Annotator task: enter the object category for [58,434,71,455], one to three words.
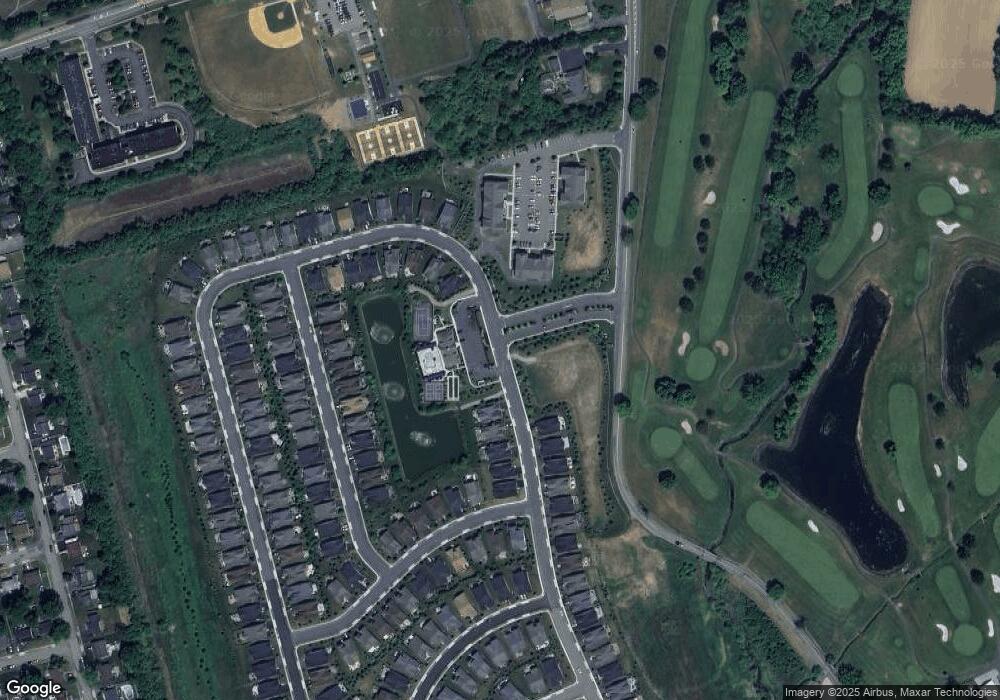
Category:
swimming pool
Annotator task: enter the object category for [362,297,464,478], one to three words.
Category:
pond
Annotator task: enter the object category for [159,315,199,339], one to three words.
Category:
house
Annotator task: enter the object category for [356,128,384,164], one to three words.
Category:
basketball court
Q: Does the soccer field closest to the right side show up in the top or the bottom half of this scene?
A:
top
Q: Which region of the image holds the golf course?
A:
right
